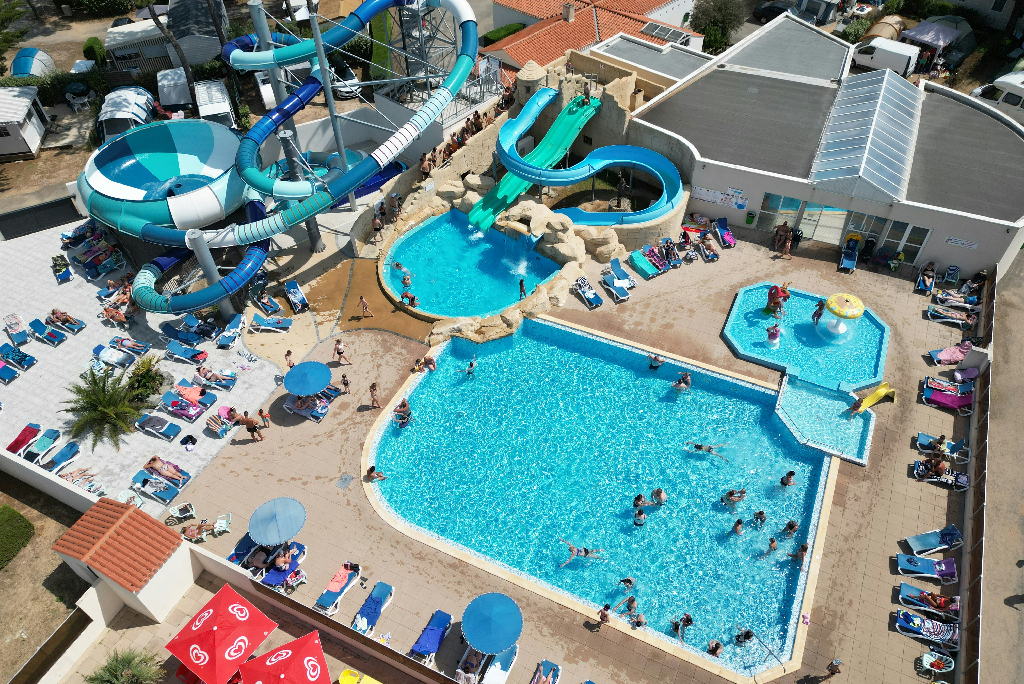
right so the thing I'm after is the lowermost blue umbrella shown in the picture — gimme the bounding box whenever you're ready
[458,588,525,656]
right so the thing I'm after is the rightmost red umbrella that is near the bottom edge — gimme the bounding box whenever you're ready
[240,630,331,684]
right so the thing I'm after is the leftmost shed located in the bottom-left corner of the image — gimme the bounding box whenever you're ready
[50,499,194,624]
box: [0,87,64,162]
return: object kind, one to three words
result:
building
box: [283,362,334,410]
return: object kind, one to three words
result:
umbrella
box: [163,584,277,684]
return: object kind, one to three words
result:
umbrella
